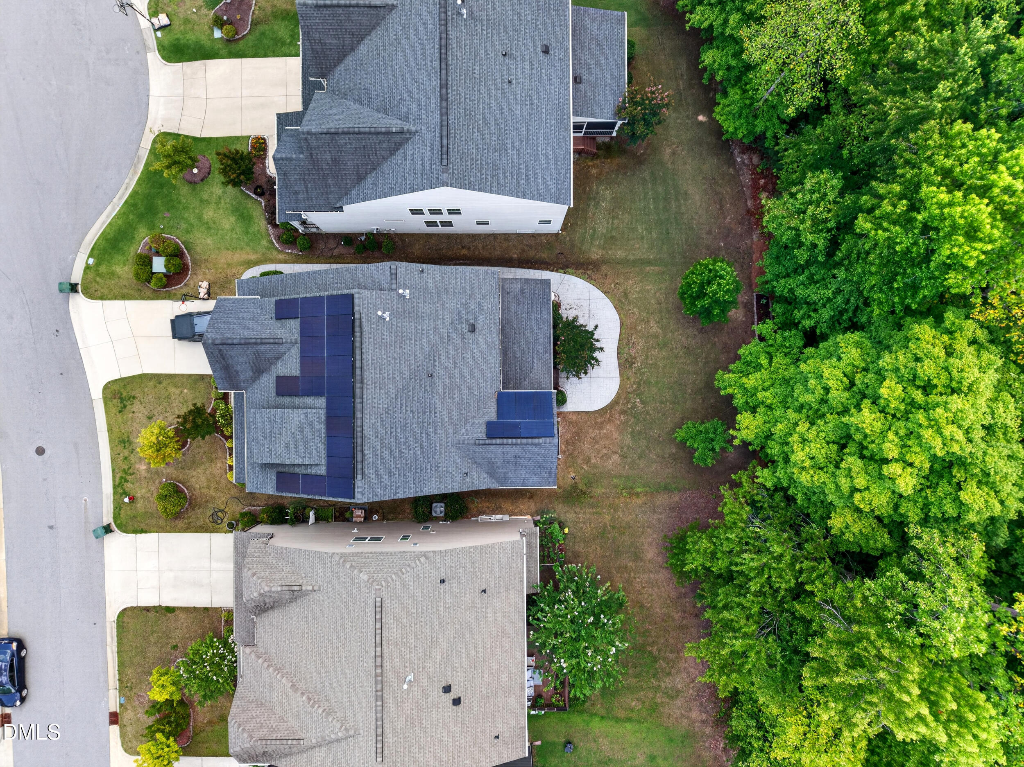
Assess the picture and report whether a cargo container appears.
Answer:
No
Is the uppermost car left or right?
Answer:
left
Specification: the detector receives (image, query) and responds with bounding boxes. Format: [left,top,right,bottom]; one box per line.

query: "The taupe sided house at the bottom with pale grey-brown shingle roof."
[227,521,541,767]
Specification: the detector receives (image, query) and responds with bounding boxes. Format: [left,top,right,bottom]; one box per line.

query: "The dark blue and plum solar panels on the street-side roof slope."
[273,294,354,499]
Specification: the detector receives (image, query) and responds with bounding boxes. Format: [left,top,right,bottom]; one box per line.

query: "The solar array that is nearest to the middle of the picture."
[485,391,556,437]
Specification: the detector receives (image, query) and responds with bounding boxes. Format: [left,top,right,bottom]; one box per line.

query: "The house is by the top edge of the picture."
[273,0,627,241]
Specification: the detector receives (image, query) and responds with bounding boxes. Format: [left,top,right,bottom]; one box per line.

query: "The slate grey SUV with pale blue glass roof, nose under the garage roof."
[170,312,212,345]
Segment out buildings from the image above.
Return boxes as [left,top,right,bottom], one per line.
[202,261,558,502]
[273,0,627,241]
[227,521,541,767]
